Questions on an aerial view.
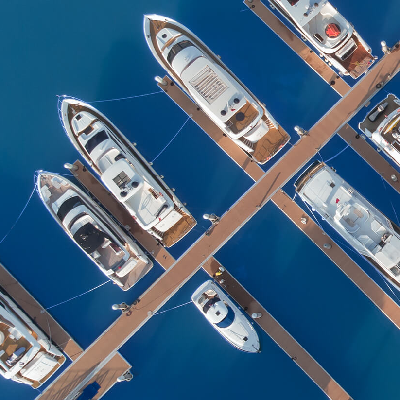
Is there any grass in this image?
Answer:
No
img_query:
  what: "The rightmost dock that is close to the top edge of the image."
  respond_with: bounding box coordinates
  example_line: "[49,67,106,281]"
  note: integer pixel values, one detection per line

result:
[242,0,351,97]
